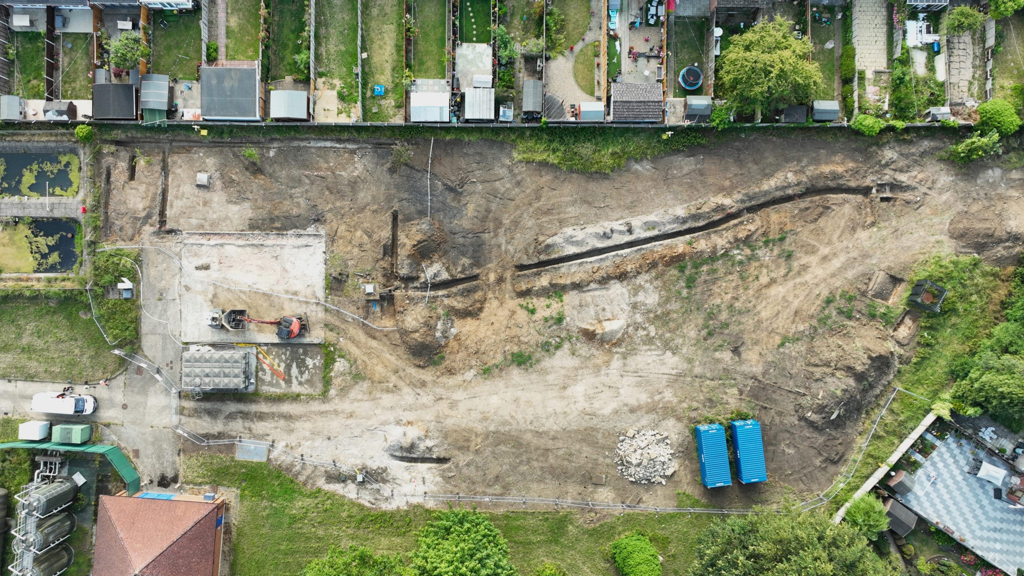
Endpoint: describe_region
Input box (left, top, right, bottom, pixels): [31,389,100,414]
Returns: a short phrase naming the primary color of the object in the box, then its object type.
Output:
white vehicle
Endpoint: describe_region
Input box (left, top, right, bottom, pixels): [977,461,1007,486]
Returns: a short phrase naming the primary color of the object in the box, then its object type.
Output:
white umbrella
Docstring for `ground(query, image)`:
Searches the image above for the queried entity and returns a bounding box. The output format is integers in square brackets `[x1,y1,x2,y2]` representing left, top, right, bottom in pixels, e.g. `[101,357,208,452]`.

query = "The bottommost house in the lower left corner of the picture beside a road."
[91,489,228,576]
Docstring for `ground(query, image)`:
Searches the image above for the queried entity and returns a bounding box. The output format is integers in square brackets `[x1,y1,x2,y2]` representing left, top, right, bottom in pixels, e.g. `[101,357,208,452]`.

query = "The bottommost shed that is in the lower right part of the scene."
[886,497,920,534]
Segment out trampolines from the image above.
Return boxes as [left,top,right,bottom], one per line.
[679,62,707,91]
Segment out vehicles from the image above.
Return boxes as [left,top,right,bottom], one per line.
[31,389,100,414]
[233,314,307,335]
[203,310,244,331]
